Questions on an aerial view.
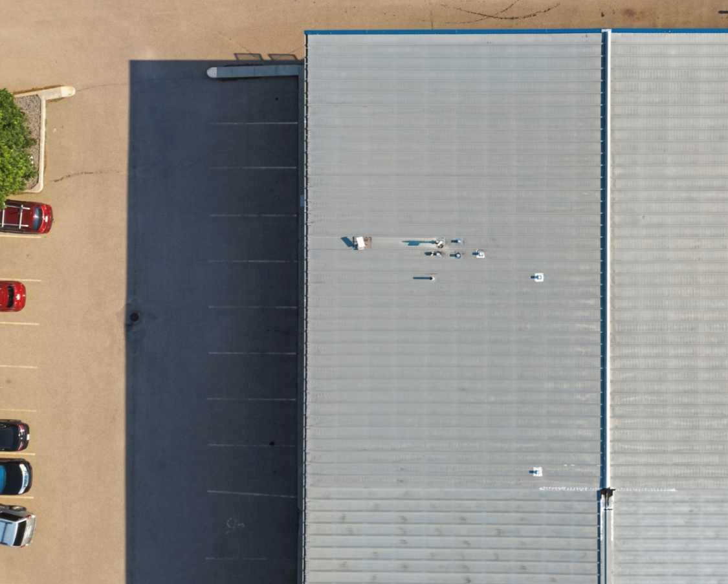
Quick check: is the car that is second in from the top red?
Yes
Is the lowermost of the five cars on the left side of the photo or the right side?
left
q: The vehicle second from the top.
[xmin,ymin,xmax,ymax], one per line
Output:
[0,281,28,312]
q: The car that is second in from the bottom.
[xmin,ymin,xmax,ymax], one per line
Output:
[0,459,35,494]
